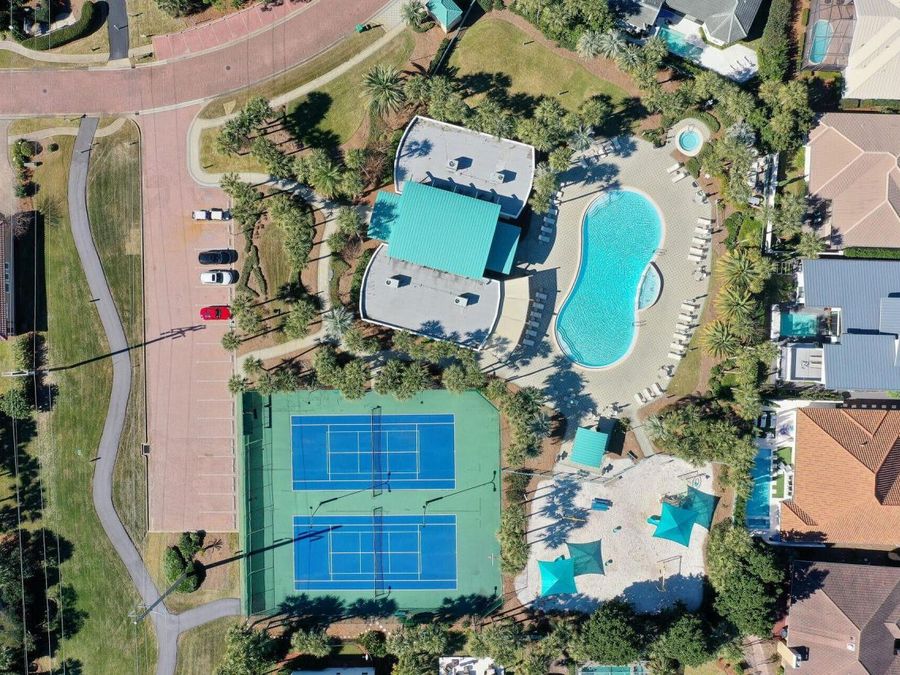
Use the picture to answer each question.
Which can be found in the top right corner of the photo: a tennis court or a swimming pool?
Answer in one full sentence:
Looking in the top right corner of the photo, you will find a swimming pool.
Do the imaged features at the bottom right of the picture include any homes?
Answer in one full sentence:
Yes, you'll find a home at the bottom right of the picture.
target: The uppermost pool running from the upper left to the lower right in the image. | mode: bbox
[657,25,707,62]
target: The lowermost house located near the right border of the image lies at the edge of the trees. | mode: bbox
[774,560,900,675]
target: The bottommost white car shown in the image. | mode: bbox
[197,269,232,285]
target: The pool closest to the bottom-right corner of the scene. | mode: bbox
[744,447,773,531]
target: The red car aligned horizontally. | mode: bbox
[198,305,229,321]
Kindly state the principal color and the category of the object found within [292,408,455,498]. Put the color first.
blue tennis court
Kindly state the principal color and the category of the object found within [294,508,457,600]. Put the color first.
blue tennis court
